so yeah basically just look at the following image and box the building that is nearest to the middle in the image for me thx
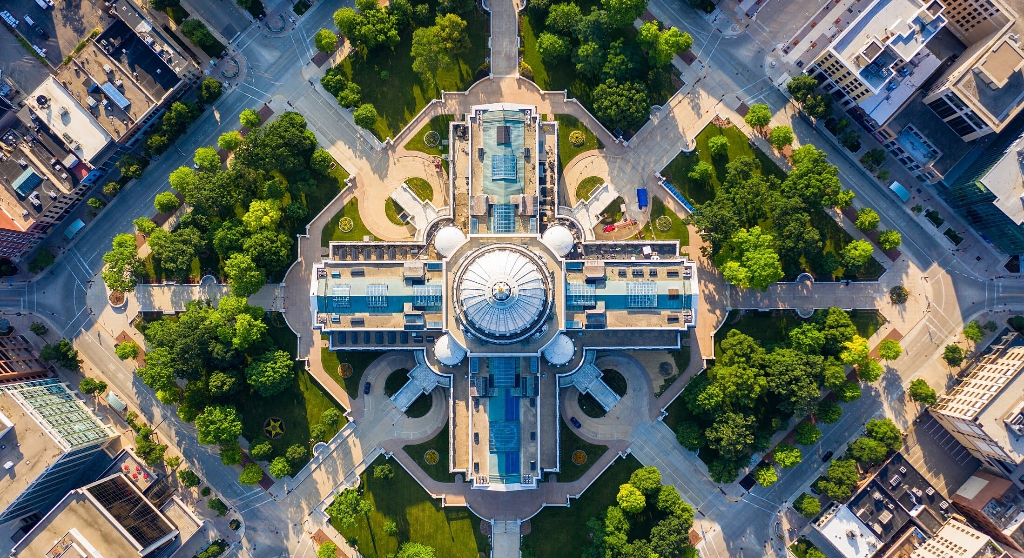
[310,102,699,491]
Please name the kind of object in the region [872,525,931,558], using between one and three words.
building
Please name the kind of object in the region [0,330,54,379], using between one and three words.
building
